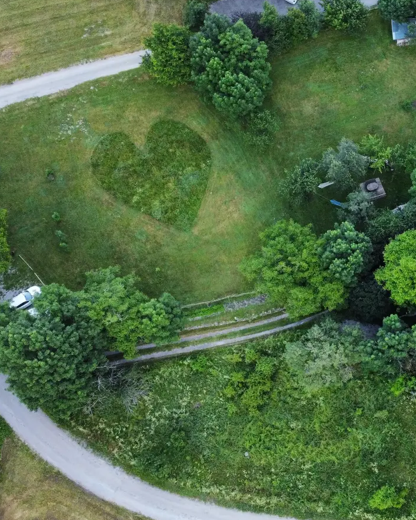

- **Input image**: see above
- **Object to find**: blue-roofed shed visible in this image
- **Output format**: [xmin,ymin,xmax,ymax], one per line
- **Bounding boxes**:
[392,20,416,49]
